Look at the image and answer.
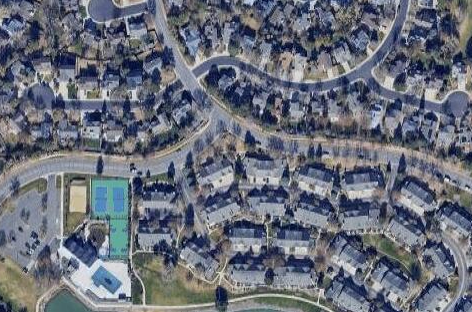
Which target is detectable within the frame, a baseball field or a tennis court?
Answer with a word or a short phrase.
tennis court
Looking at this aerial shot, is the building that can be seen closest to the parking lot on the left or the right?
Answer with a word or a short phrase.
left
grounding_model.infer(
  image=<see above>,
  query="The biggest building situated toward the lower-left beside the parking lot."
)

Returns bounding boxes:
[61,233,98,266]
